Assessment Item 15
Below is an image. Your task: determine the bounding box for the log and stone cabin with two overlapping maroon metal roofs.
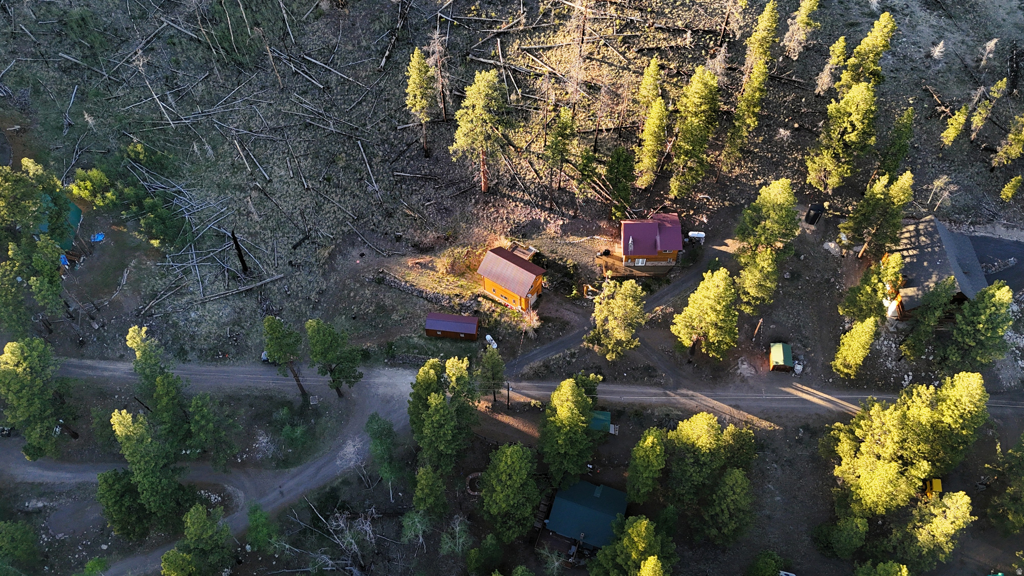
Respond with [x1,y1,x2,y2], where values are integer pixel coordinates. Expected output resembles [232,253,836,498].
[619,212,685,268]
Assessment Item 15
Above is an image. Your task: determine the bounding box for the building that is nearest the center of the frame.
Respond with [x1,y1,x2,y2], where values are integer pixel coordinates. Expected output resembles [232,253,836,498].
[477,247,549,310]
